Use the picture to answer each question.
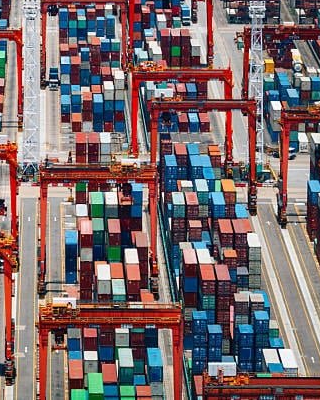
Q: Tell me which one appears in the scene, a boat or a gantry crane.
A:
gantry crane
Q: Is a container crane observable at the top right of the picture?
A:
Yes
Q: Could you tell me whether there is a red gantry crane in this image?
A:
Yes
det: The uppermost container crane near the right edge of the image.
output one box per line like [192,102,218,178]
[236,16,320,125]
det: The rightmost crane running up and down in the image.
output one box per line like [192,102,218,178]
[275,104,320,224]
